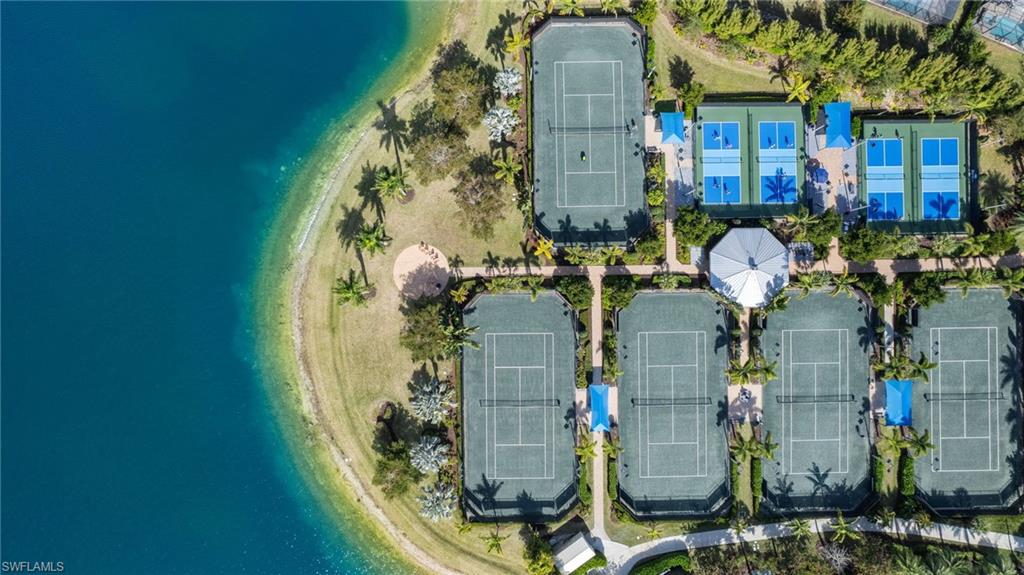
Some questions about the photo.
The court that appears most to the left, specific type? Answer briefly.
tennis court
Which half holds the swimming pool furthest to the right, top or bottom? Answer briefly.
top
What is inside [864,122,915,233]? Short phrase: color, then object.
blue sports court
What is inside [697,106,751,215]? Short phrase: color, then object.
blue sports court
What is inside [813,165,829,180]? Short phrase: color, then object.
blue umbrella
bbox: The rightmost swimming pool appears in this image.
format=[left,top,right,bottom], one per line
[982,10,1024,47]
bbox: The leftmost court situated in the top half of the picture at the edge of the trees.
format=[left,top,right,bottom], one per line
[533,24,648,244]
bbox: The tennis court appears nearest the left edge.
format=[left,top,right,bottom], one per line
[463,292,577,513]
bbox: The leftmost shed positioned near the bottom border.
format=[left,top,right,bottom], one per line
[552,529,596,575]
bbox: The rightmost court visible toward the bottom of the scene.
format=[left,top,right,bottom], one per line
[913,287,1020,508]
